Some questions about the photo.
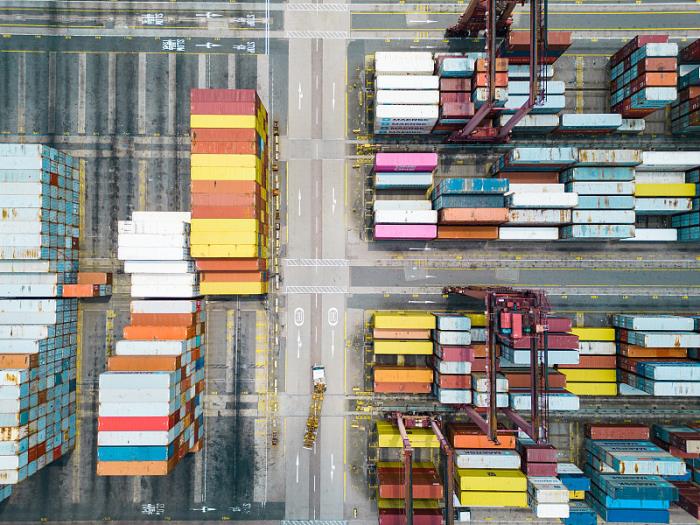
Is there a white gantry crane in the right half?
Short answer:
No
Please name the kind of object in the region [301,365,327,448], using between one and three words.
truck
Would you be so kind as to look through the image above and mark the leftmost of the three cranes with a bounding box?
[373,410,453,525]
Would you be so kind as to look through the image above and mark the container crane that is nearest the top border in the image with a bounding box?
[441,0,552,146]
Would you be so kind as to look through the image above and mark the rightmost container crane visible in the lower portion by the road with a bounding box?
[440,283,550,445]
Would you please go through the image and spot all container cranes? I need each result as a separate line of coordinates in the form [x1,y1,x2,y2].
[441,0,552,146]
[440,283,550,445]
[373,410,453,525]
